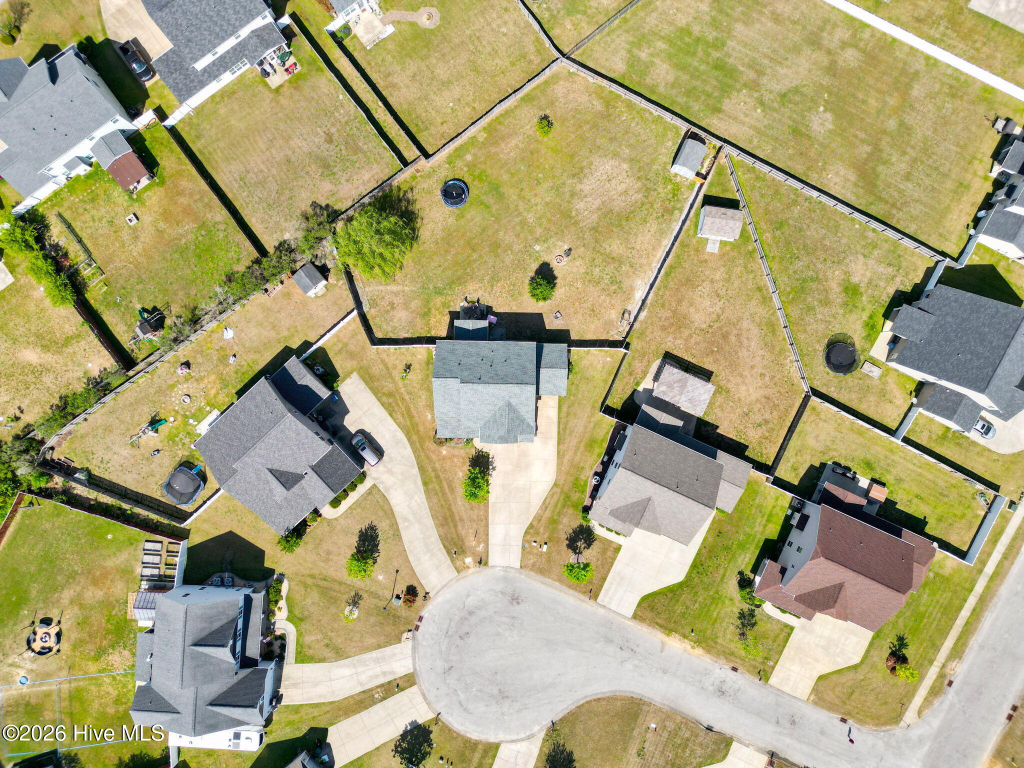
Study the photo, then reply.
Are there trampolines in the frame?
Yes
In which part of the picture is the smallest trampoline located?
top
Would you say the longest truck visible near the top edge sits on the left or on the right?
left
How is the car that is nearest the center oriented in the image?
diagonally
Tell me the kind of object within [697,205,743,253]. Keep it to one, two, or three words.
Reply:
shed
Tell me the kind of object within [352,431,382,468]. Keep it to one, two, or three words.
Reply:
car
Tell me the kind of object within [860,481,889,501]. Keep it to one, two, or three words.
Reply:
gazebo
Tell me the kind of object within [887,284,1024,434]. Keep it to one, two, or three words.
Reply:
house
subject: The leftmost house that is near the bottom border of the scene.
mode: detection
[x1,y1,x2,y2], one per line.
[128,587,277,740]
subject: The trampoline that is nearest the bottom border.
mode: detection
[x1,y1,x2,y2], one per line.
[159,463,204,503]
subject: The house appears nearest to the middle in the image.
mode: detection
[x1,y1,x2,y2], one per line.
[433,315,568,444]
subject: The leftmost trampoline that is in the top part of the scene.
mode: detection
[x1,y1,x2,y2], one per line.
[441,175,469,206]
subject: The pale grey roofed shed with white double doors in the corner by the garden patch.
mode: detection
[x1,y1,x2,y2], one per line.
[673,139,707,178]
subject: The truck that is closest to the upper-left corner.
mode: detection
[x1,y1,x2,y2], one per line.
[116,37,152,81]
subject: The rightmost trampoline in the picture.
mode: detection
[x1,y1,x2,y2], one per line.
[824,337,866,371]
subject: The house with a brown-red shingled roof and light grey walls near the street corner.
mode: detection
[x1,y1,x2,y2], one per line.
[749,477,935,633]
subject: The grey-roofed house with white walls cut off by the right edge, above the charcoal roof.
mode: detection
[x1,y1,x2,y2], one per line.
[964,140,1024,268]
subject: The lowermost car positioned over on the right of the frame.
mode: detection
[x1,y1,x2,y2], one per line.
[973,414,1002,442]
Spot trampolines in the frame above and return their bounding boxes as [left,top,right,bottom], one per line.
[441,175,469,206]
[824,337,866,371]
[159,463,204,503]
